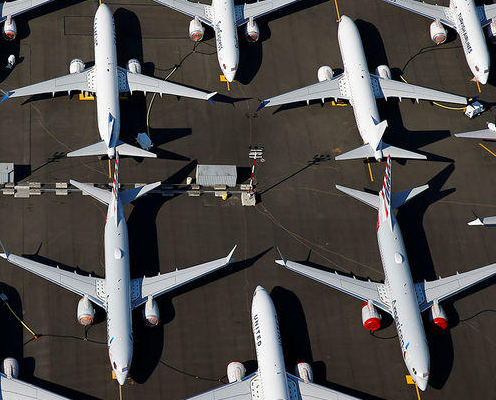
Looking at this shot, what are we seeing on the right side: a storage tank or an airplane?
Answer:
airplane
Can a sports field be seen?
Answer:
No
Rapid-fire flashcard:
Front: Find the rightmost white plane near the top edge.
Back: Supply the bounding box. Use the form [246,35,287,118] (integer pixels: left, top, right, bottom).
[381,0,496,84]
